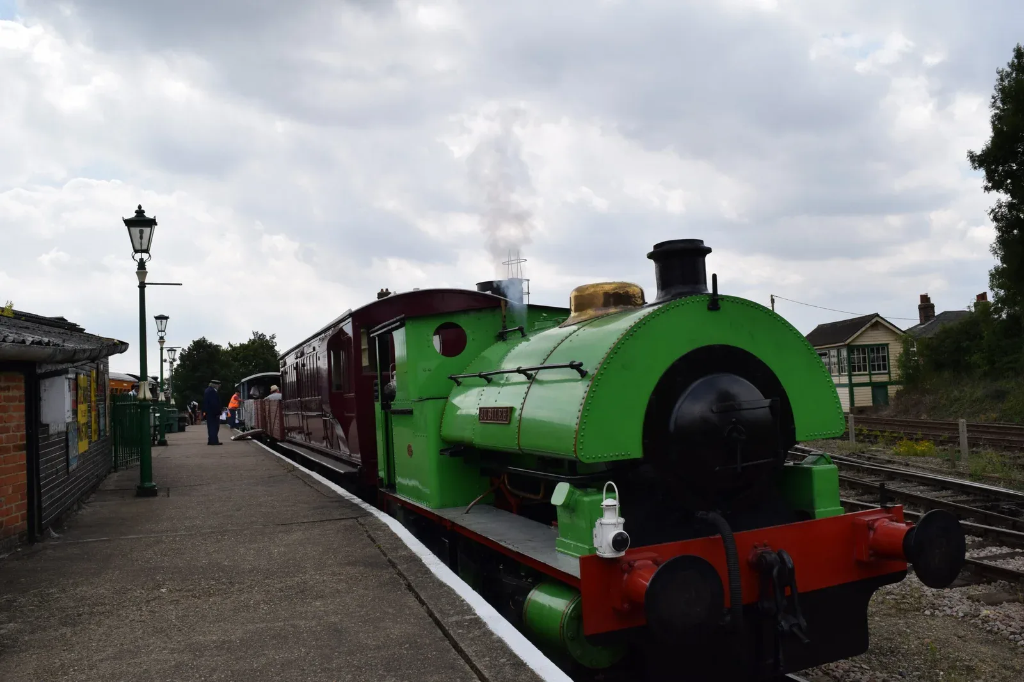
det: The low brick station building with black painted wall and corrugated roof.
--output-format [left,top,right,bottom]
[0,307,137,566]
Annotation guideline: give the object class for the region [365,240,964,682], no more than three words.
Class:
rail car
